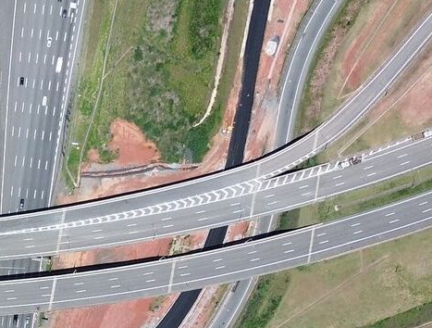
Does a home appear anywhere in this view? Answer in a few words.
No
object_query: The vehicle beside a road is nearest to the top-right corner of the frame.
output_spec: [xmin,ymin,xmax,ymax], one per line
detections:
[411,128,432,141]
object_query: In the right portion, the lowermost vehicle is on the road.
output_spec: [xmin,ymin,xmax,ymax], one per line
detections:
[340,155,362,167]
